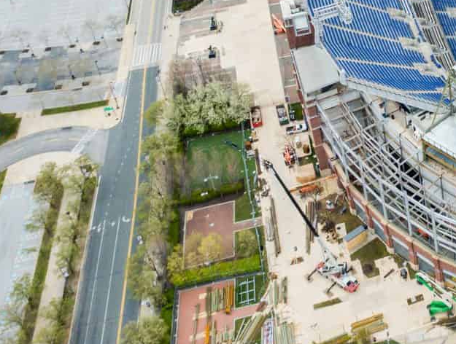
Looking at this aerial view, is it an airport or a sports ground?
sports ground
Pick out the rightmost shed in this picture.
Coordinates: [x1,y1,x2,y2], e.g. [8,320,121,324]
[331,219,376,251]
